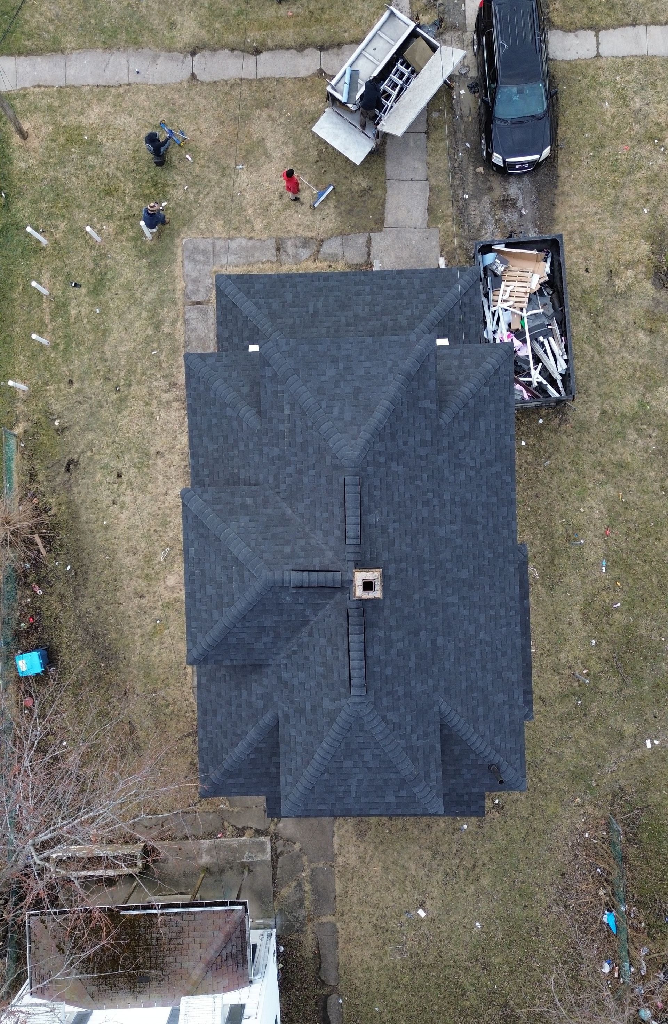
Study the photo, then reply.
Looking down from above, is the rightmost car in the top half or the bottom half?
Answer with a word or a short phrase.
top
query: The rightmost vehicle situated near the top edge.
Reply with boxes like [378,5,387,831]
[472,0,565,175]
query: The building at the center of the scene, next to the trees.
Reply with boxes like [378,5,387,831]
[177,261,534,821]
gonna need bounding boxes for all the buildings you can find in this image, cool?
[0,865,277,1024]
[177,261,534,821]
